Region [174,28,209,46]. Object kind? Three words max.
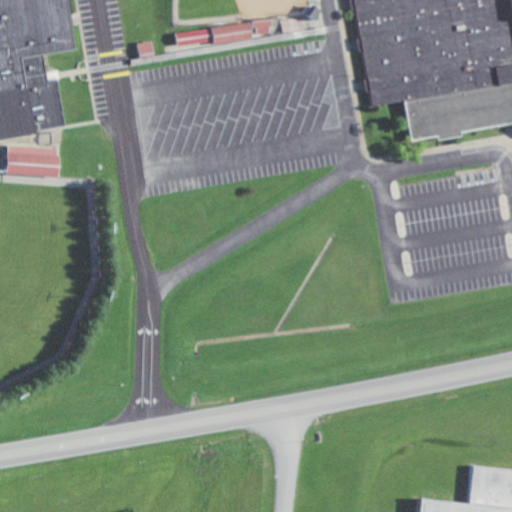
building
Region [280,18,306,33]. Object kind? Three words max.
building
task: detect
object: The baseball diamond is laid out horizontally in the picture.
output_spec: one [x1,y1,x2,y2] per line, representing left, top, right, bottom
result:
[178,0,308,24]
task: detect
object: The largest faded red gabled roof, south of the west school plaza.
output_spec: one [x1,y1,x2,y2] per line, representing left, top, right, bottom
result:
[6,147,60,176]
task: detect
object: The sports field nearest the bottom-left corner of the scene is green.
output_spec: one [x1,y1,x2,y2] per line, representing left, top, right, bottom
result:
[0,183,92,381]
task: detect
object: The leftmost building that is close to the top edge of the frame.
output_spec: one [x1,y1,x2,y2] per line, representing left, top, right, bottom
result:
[0,0,76,140]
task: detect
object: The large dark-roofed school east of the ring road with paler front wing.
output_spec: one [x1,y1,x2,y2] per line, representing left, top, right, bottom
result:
[352,0,512,141]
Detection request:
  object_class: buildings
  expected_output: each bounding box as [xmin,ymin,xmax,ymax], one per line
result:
[210,22,252,44]
[252,19,270,37]
[6,147,60,176]
[0,0,76,140]
[136,42,154,56]
[352,0,512,141]
[174,28,209,46]
[280,18,306,33]
[415,466,512,512]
